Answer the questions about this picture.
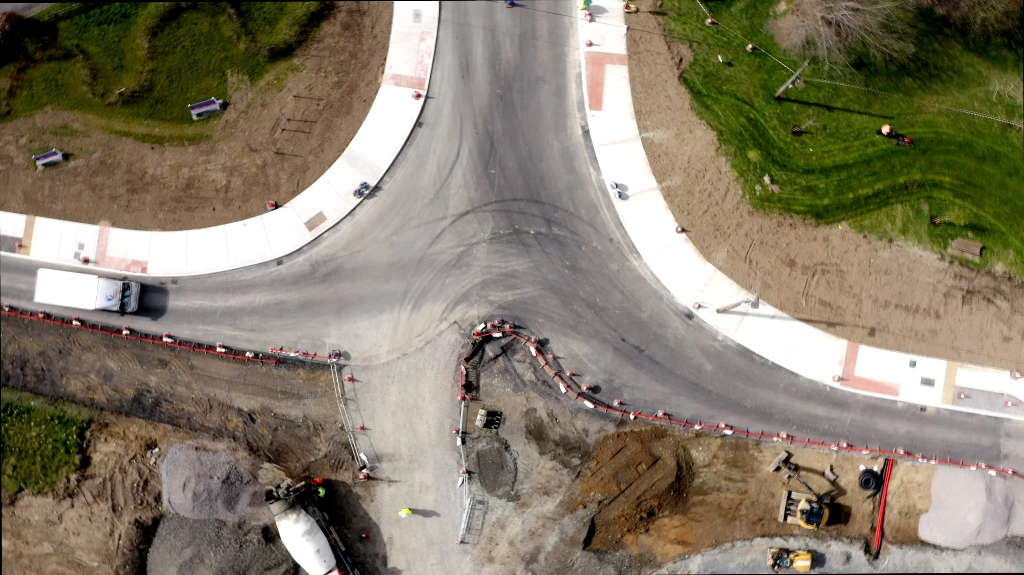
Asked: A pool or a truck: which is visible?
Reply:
truck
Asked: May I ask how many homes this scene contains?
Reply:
zero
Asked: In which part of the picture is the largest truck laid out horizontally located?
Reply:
left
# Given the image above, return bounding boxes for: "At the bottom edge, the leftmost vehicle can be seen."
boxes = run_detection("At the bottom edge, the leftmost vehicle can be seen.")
[262,469,353,575]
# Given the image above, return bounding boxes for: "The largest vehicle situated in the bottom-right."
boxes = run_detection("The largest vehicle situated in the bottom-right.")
[768,449,832,531]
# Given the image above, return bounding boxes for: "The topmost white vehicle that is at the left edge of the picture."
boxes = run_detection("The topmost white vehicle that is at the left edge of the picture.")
[39,268,144,315]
